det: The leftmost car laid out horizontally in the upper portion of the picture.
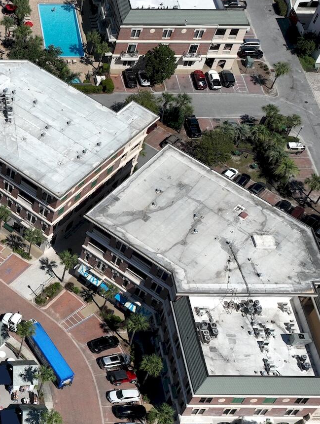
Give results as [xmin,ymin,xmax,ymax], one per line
[161,134,185,148]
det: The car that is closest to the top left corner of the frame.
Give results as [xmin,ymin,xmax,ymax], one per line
[121,68,139,90]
